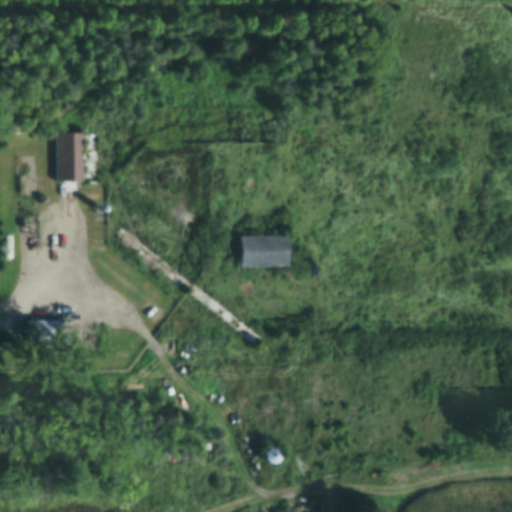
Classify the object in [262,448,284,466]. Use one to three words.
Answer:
silo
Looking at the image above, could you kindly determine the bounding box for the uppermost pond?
[441,388,512,452]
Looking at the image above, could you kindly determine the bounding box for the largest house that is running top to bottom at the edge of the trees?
[56,132,84,194]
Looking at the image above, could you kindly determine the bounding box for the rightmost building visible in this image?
[240,236,292,267]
